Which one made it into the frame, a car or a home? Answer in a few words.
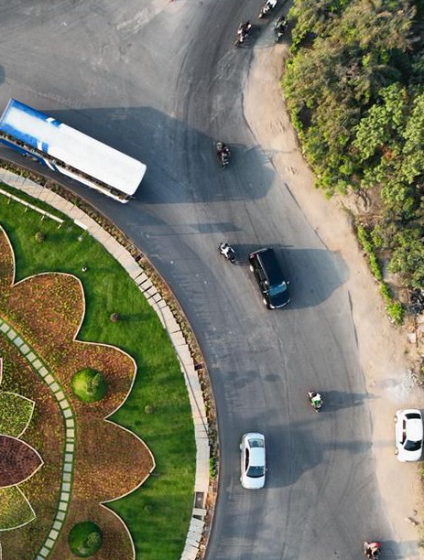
car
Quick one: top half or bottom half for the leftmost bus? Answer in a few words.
top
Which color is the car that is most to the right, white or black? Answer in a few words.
white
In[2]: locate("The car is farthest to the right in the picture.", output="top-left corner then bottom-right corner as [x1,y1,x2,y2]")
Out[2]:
[391,408,424,461]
